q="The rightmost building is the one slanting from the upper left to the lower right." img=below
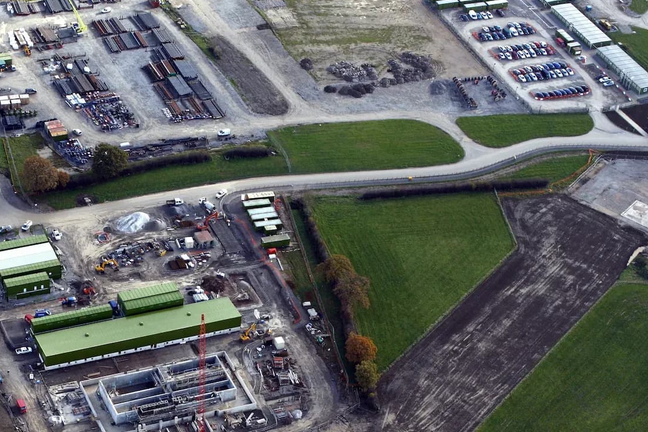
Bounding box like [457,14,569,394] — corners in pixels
[596,45,648,94]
